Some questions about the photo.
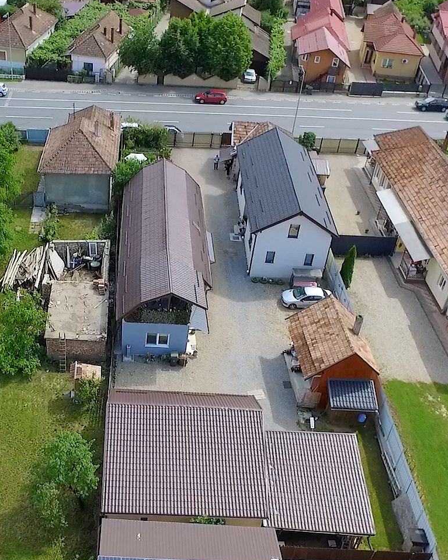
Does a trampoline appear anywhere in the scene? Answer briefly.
No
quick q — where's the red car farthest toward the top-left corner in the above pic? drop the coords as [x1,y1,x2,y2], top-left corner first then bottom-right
[195,88,228,104]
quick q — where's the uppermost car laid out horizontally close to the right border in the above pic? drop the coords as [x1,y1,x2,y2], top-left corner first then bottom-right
[416,95,448,111]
